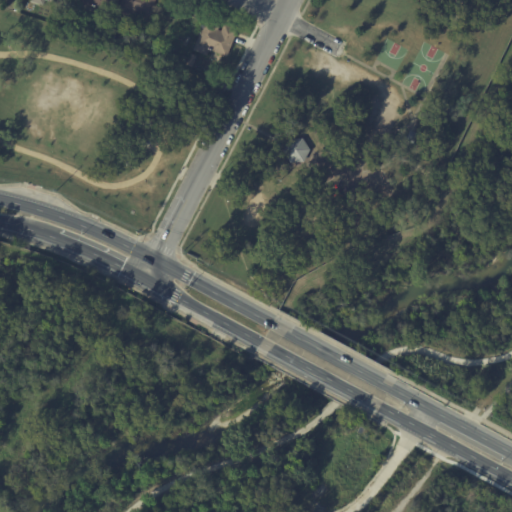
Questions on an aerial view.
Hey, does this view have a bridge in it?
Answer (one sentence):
Yes, looking at the shot, I can spot a bridge.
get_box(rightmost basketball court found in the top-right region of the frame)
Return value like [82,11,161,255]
[404,42,445,94]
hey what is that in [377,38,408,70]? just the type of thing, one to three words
basketball court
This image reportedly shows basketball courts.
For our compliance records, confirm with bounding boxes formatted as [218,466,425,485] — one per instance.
[404,42,445,94]
[377,38,408,70]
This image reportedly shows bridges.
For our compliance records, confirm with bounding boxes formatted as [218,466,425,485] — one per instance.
[250,312,398,414]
